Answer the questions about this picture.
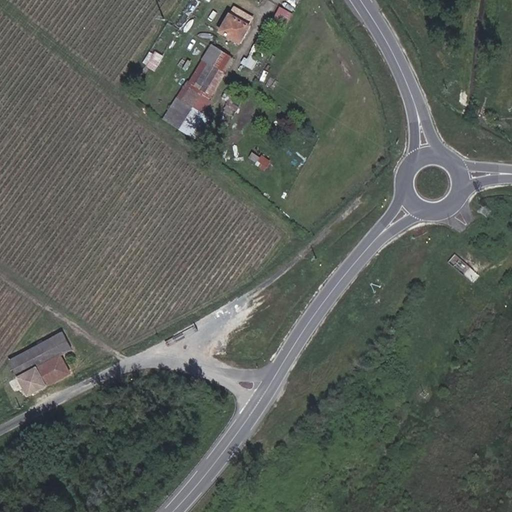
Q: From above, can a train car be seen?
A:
No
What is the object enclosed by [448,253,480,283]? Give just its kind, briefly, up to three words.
building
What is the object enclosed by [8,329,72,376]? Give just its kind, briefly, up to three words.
shed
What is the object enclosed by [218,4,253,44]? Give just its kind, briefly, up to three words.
house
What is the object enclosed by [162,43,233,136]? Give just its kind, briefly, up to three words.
barn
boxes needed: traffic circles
[376,112,512,246]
